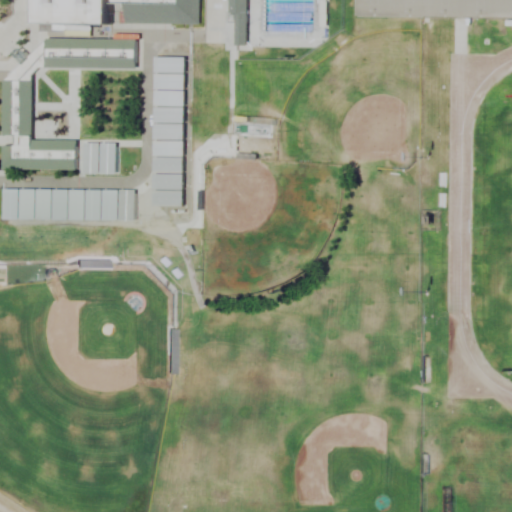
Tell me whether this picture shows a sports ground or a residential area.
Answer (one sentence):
The area seen from above is a sports ground.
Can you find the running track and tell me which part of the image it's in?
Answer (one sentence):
The running track is in the right part of the image.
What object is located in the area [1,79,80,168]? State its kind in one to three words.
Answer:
building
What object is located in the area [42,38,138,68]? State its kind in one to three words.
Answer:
building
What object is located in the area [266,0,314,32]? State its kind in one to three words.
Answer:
swimming pool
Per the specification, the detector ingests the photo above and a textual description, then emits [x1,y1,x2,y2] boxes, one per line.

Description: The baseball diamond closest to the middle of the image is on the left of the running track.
[205,158,343,296]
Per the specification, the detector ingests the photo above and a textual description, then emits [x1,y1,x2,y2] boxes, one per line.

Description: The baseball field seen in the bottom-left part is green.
[0,266,174,512]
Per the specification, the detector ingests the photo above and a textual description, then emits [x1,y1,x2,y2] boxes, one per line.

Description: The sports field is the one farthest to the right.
[474,72,512,380]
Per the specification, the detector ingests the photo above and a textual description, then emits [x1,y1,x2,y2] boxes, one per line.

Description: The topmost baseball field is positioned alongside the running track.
[278,30,421,168]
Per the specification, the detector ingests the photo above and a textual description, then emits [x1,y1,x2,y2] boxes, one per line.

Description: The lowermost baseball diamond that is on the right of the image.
[296,414,388,506]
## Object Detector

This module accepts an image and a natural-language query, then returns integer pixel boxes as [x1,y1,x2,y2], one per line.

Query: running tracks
[448,46,512,410]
